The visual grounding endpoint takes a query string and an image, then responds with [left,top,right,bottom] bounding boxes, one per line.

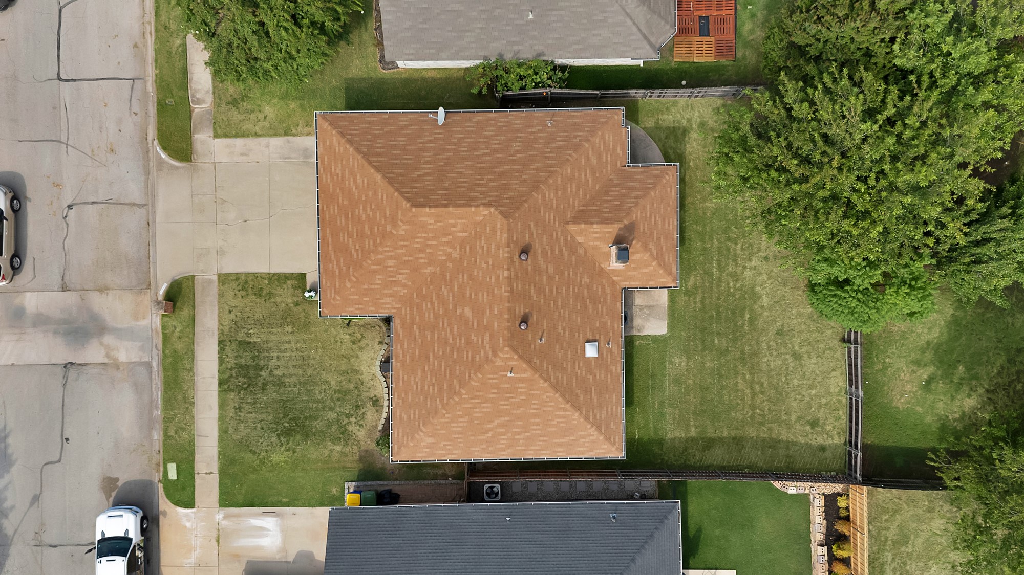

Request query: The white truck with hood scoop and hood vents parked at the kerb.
[89,502,154,575]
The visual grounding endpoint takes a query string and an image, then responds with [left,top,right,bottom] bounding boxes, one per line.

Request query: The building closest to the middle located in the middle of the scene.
[316,108,679,463]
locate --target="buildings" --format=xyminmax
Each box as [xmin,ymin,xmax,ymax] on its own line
[382,0,678,75]
[316,108,679,463]
[324,497,682,575]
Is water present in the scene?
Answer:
No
